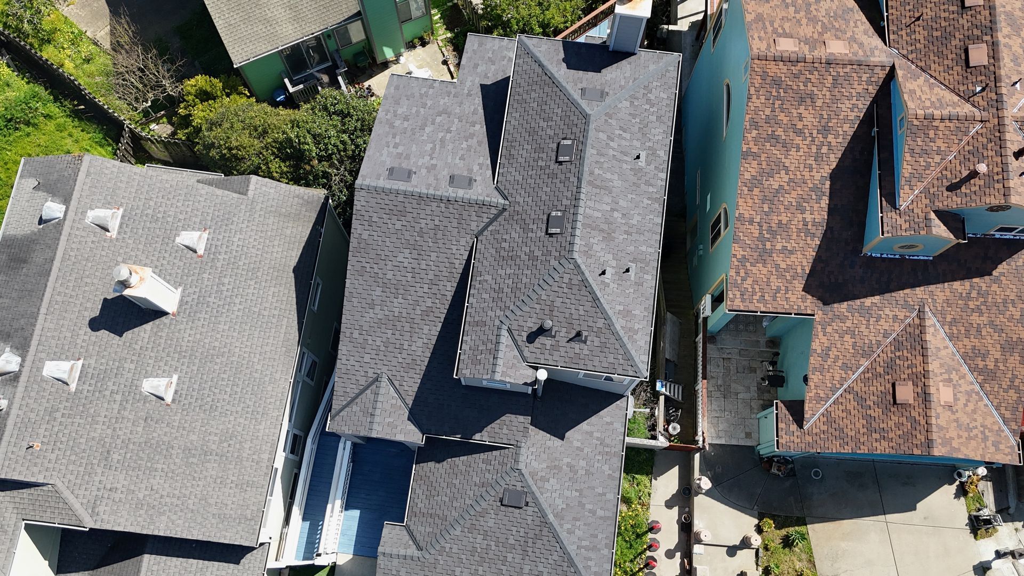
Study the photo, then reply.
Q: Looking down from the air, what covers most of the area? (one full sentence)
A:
For the most part, this view shows buildings.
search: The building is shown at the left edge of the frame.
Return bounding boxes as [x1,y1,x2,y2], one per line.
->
[0,155,343,576]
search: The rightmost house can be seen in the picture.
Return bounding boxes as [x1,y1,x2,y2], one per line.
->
[687,0,1024,464]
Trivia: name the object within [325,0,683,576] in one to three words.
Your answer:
house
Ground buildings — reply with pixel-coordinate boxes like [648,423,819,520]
[325,0,683,576]
[205,0,434,99]
[687,0,1024,464]
[0,155,343,576]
